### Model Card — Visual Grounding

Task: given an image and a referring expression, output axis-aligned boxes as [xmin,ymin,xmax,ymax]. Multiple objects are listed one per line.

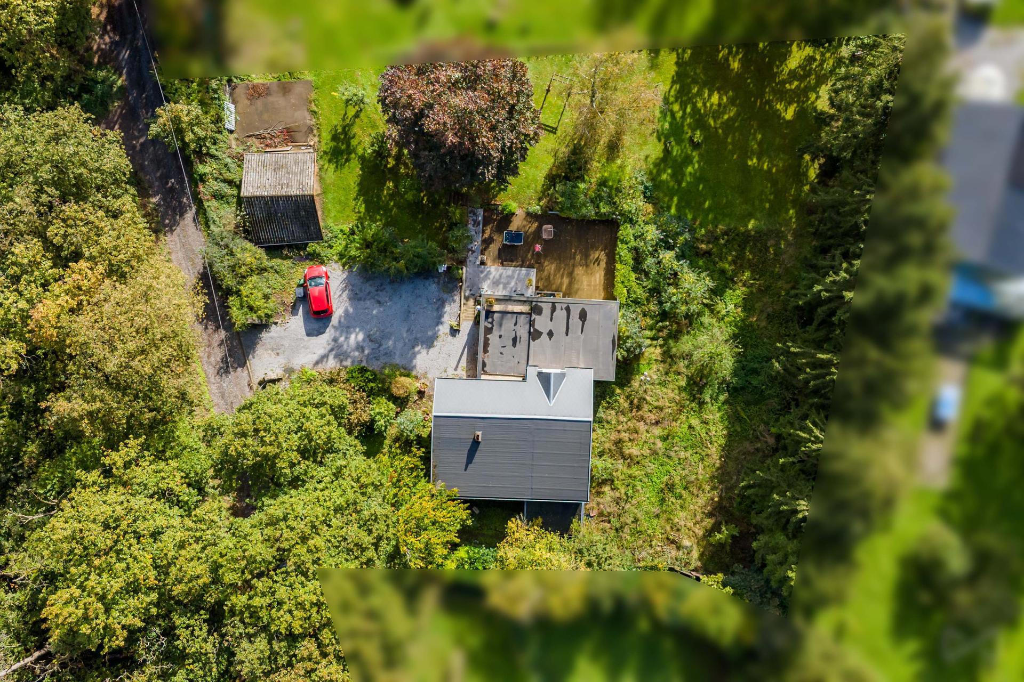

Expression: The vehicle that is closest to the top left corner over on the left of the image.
[302,266,335,321]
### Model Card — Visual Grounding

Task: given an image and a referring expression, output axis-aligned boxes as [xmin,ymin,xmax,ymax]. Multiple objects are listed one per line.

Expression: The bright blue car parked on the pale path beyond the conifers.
[929,377,966,432]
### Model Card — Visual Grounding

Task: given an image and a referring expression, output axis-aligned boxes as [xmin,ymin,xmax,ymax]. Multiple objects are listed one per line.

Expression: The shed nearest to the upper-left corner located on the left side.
[240,151,325,246]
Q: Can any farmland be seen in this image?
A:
No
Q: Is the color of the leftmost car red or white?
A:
red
